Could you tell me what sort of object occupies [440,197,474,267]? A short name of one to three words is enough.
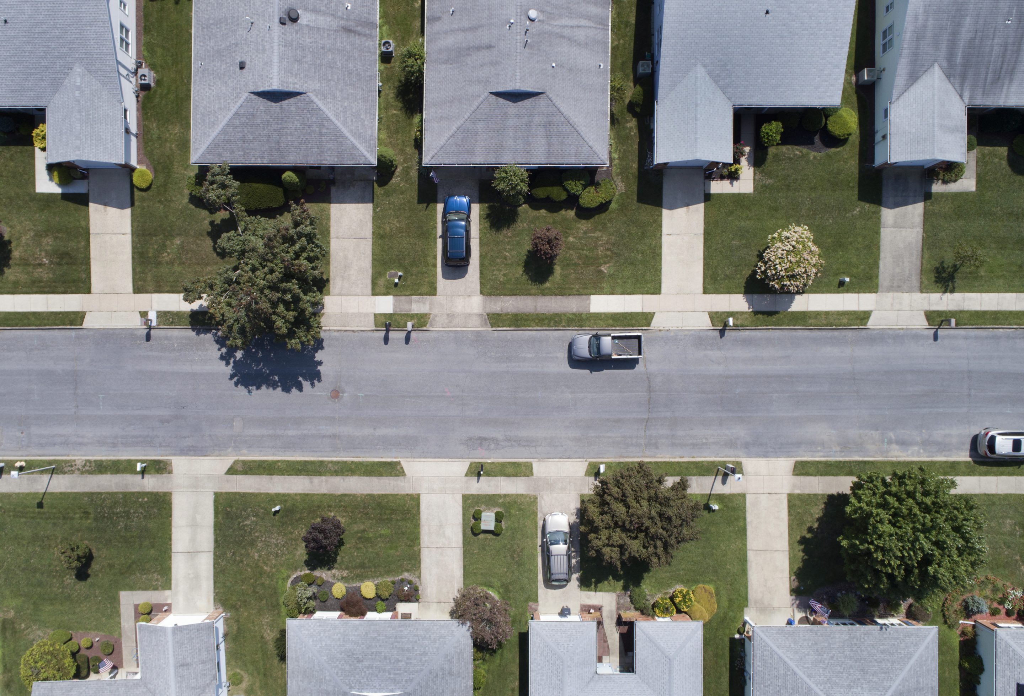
car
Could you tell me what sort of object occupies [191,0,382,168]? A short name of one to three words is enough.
house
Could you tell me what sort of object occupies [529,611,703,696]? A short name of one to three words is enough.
house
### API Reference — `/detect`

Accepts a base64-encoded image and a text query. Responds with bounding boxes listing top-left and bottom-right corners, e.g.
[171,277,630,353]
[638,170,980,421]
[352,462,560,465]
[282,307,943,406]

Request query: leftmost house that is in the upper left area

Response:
[0,0,144,178]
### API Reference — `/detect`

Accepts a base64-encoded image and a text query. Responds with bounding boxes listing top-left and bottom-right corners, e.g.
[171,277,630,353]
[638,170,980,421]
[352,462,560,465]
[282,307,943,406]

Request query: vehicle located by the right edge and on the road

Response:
[975,429,1024,459]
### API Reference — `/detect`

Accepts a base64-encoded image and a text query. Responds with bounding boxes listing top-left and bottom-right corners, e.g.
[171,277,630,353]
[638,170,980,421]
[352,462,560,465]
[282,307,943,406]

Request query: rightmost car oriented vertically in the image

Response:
[541,512,574,584]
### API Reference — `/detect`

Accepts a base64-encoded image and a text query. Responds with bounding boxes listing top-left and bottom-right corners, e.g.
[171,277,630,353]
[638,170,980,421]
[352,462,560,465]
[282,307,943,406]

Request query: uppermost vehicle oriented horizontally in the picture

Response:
[568,329,644,364]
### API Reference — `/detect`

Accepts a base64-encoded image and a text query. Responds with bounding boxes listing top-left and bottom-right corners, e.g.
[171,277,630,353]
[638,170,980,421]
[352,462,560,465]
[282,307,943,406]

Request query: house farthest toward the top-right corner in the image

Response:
[873,0,1024,170]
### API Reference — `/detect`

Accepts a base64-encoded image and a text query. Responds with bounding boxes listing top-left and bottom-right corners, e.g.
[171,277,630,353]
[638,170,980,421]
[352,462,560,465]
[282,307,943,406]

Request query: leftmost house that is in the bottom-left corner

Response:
[34,610,232,696]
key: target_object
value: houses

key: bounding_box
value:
[34,610,232,696]
[0,0,144,178]
[286,612,474,696]
[966,620,1024,696]
[873,0,1024,170]
[191,0,382,168]
[423,0,609,169]
[529,611,703,696]
[646,0,855,179]
[730,615,938,696]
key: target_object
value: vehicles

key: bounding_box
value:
[440,197,474,267]
[568,329,644,364]
[975,429,1024,459]
[541,512,574,584]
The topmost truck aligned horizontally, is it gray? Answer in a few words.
Yes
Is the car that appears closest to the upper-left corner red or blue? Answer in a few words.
blue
